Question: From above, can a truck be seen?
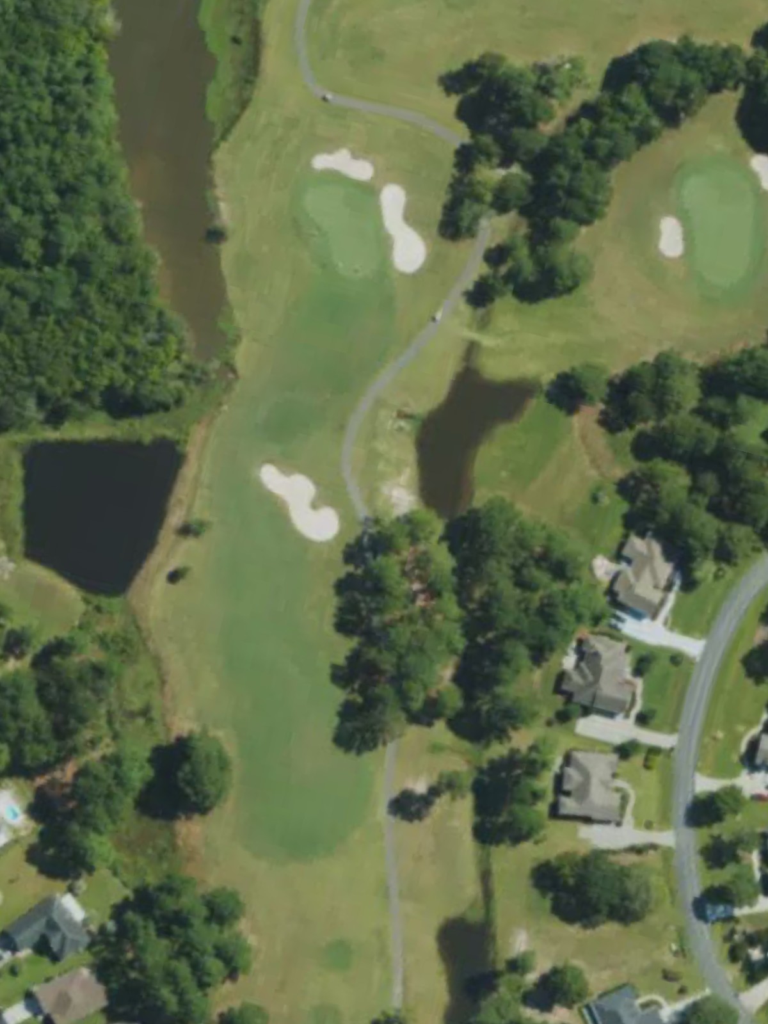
No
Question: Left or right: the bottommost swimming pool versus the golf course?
left of it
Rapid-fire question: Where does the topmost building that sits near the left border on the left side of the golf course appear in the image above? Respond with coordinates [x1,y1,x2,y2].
[0,893,92,966]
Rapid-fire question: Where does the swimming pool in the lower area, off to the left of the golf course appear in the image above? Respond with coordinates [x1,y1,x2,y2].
[0,789,25,847]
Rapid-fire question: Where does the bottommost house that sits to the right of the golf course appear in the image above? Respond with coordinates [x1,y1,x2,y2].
[586,985,672,1024]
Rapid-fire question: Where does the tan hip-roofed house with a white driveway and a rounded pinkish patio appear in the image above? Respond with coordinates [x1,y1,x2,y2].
[607,531,672,620]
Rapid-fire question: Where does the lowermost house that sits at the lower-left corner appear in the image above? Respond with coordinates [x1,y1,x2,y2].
[33,964,109,1024]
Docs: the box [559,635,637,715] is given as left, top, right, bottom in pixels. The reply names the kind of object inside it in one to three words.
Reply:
house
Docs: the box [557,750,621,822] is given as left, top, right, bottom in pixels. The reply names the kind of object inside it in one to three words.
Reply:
house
